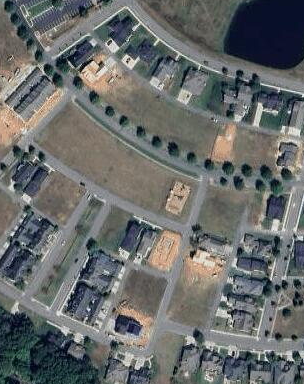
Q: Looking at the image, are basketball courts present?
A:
No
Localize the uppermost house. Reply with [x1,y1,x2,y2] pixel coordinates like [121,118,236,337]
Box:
[105,14,136,46]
